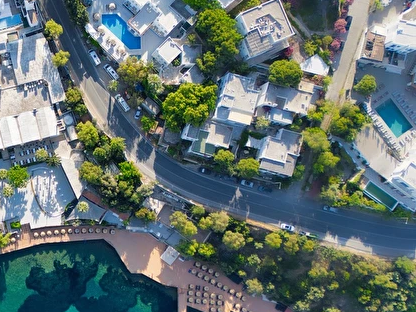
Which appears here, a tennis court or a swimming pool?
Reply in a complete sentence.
This aerial view contains a swimming pool.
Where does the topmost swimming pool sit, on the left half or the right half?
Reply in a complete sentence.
The topmost swimming pool sits on the left side.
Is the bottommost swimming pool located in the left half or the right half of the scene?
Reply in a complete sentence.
The bottommost swimming pool appears in the right half of the scene.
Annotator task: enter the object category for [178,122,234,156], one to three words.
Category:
house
